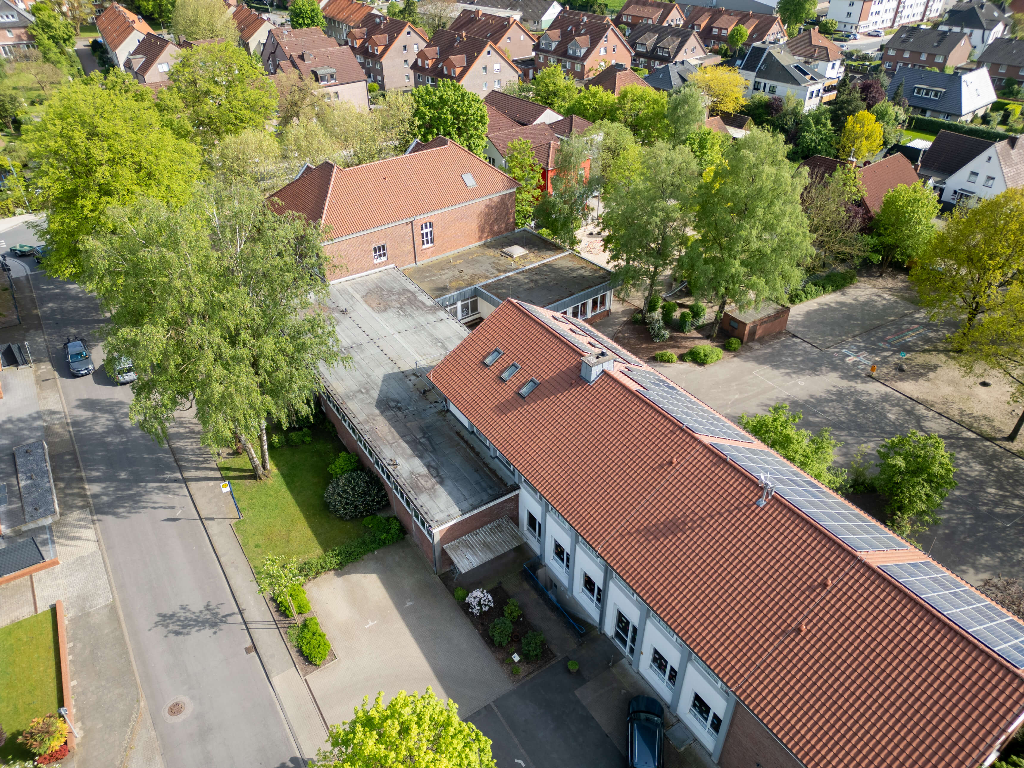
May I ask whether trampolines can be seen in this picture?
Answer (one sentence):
No, there is no trampoline in the image.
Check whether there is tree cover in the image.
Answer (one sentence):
Yes, there is tree cover in the image.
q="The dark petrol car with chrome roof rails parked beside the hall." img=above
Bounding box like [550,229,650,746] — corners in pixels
[625,693,676,768]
